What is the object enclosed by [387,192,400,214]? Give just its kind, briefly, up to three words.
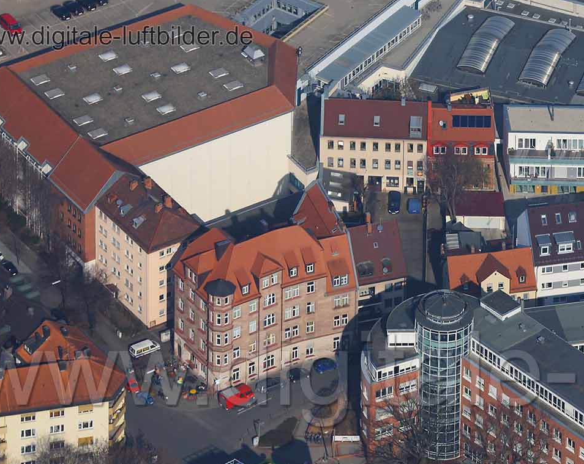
vehicle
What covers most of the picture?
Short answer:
buildings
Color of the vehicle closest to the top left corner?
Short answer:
red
